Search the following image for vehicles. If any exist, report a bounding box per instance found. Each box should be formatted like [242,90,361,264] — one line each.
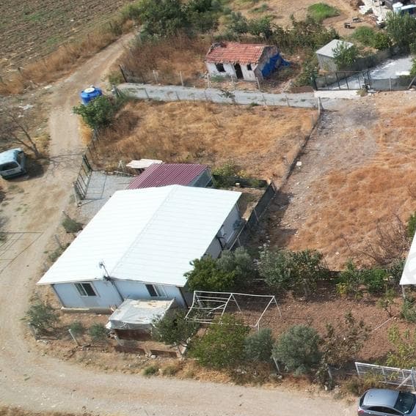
[352,391,416,416]
[0,151,28,176]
